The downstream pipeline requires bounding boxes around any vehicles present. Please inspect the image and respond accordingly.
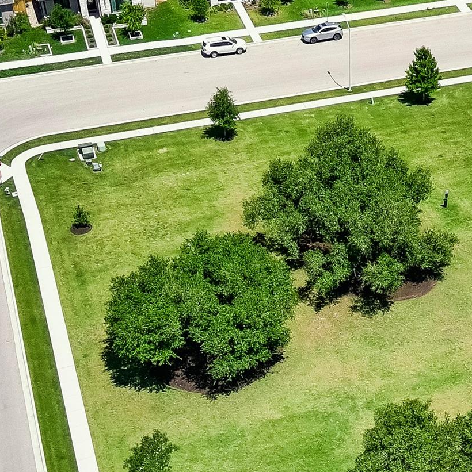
[200,35,249,59]
[300,20,347,44]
